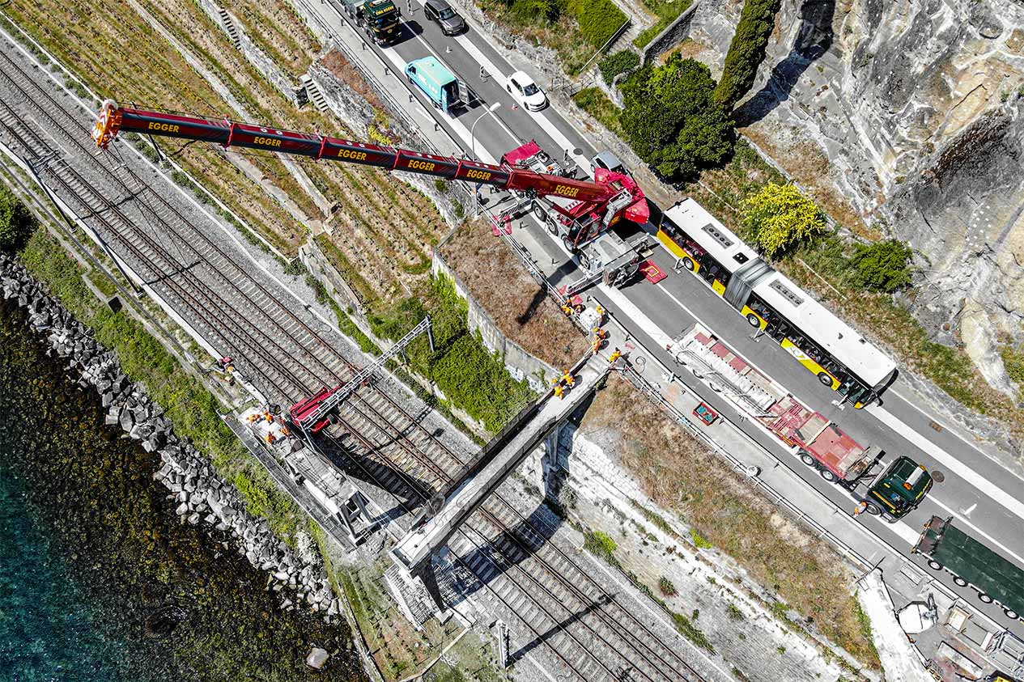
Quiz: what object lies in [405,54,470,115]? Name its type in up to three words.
van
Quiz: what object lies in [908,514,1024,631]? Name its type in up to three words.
trailer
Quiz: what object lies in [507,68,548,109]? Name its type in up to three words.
car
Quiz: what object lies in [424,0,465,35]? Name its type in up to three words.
car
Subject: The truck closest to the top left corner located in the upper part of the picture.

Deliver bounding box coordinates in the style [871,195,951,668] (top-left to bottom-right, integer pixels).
[333,0,402,42]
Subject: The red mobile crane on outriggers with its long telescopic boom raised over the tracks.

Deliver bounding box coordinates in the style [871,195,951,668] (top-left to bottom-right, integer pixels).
[99,104,652,518]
